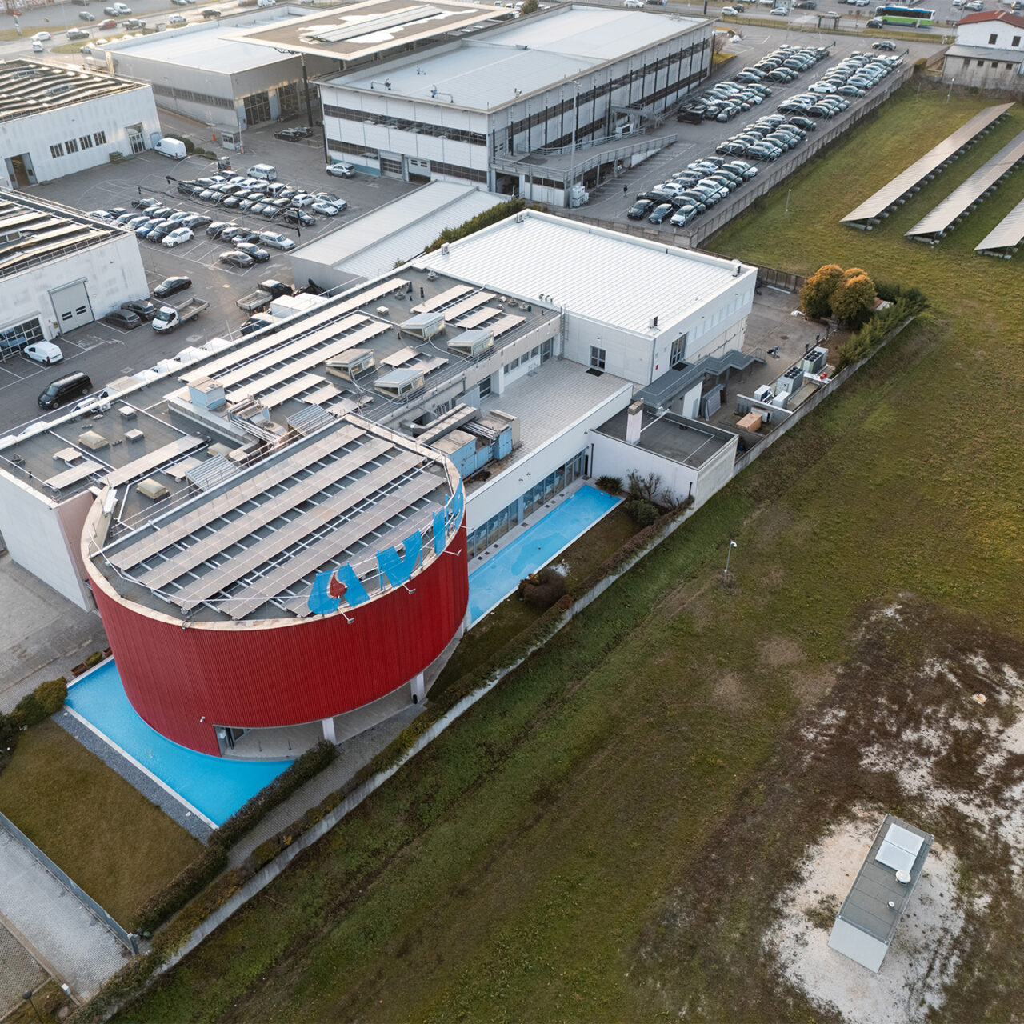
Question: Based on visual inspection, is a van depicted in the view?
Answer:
Yes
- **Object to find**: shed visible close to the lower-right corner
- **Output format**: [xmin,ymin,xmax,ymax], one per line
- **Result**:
[824,814,940,969]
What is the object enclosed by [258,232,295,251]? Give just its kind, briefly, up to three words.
car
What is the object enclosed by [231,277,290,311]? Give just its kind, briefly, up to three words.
truck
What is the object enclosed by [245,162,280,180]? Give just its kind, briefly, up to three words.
vehicle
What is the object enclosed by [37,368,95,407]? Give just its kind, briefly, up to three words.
van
